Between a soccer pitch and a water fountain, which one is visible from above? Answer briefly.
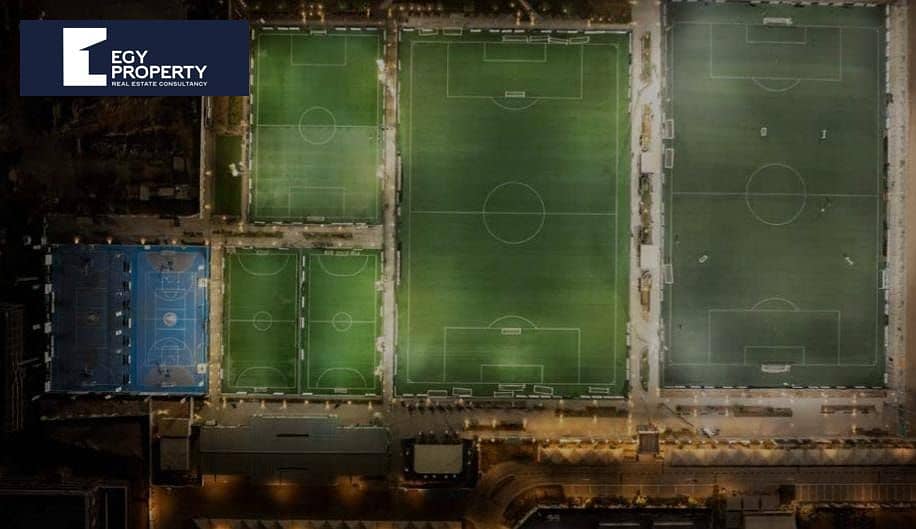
soccer pitch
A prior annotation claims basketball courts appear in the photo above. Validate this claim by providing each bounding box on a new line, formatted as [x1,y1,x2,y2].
[129,245,207,394]
[49,245,128,393]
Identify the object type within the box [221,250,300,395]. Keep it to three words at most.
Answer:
soccer field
